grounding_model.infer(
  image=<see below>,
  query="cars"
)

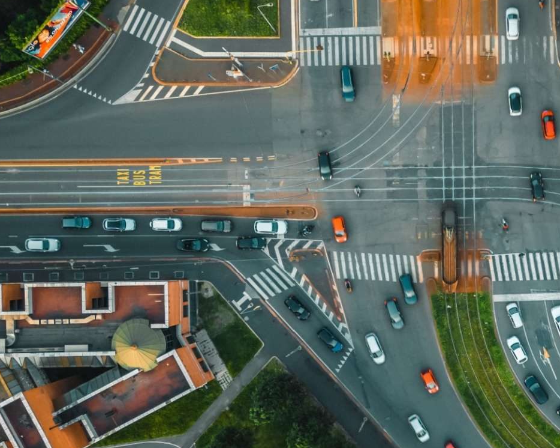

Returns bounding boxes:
[200,218,232,234]
[333,215,349,243]
[364,331,386,366]
[25,236,62,252]
[340,65,355,104]
[506,301,523,329]
[253,218,288,235]
[507,86,523,116]
[318,151,334,181]
[101,217,137,233]
[506,334,526,366]
[524,371,548,405]
[530,170,544,200]
[443,438,459,448]
[551,304,560,341]
[504,6,521,41]
[407,412,430,445]
[540,109,556,141]
[400,272,416,306]
[282,294,313,322]
[177,236,211,252]
[148,216,183,233]
[315,324,345,353]
[58,214,92,231]
[386,297,404,331]
[235,235,268,252]
[419,367,439,396]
